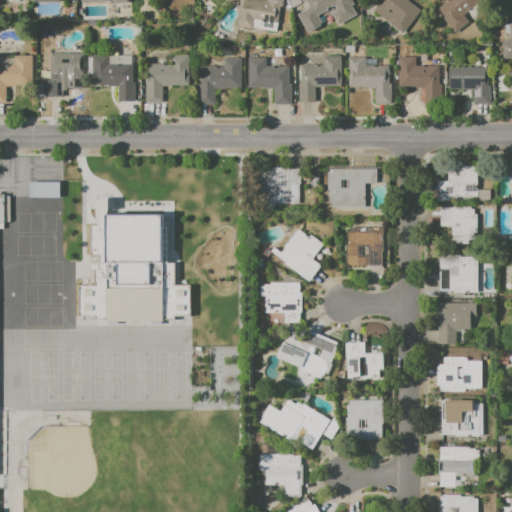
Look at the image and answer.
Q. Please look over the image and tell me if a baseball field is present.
Yes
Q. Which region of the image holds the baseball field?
bottom left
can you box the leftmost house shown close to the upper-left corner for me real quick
[0,55,32,103]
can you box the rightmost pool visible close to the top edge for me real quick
[220,8,238,32]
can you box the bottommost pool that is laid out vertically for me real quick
[266,354,280,380]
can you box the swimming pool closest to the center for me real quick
[261,226,284,244]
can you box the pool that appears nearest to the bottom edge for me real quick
[312,396,333,413]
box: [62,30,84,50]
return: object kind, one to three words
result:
swimming pool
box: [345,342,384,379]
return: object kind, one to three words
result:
house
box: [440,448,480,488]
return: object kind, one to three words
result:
house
